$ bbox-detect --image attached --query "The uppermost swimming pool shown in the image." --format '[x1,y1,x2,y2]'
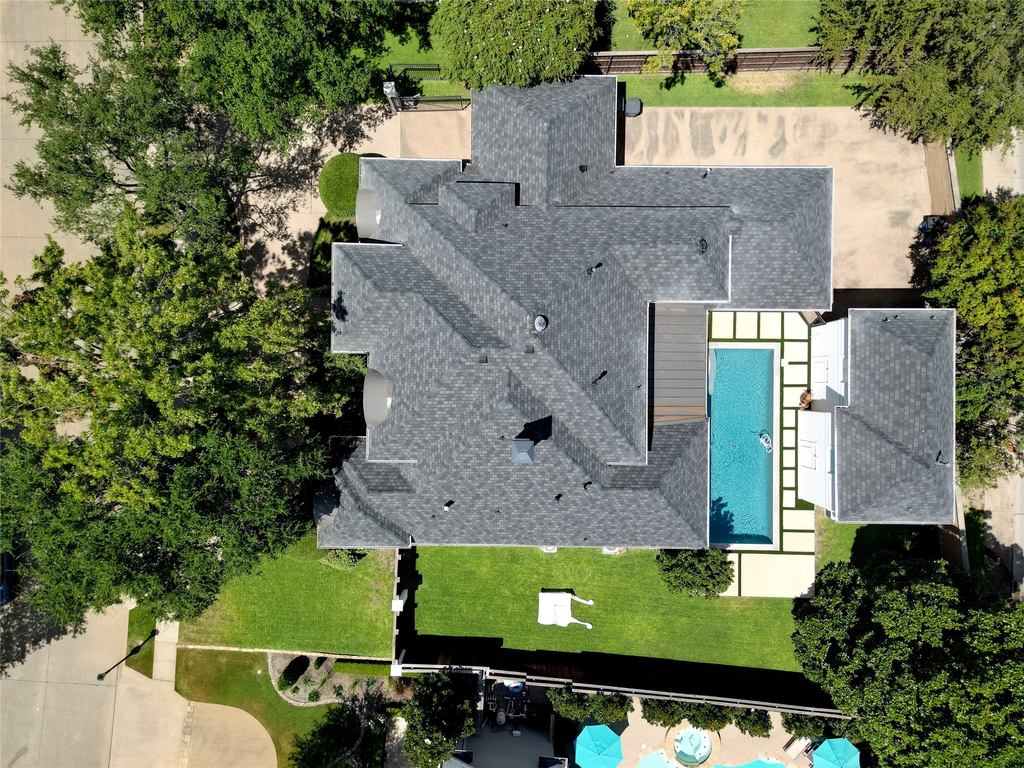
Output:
[690,342,787,552]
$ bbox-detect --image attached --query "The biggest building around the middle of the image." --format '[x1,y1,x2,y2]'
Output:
[310,75,835,549]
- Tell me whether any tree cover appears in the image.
Yes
